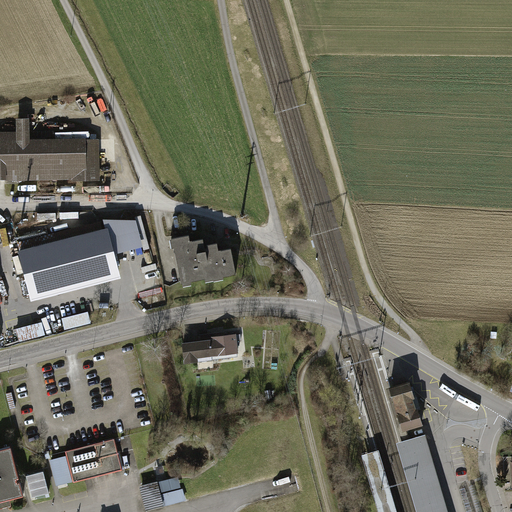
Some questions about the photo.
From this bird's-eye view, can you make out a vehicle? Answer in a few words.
Yes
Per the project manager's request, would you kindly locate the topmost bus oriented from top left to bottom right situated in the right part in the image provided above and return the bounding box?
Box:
[440,384,480,411]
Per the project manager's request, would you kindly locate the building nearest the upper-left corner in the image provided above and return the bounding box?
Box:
[0,118,100,181]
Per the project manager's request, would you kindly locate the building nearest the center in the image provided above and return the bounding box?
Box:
[170,236,234,288]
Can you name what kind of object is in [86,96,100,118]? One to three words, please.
vehicle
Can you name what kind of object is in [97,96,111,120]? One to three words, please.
vehicle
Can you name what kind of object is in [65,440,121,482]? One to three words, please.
building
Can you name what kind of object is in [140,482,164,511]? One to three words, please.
shed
